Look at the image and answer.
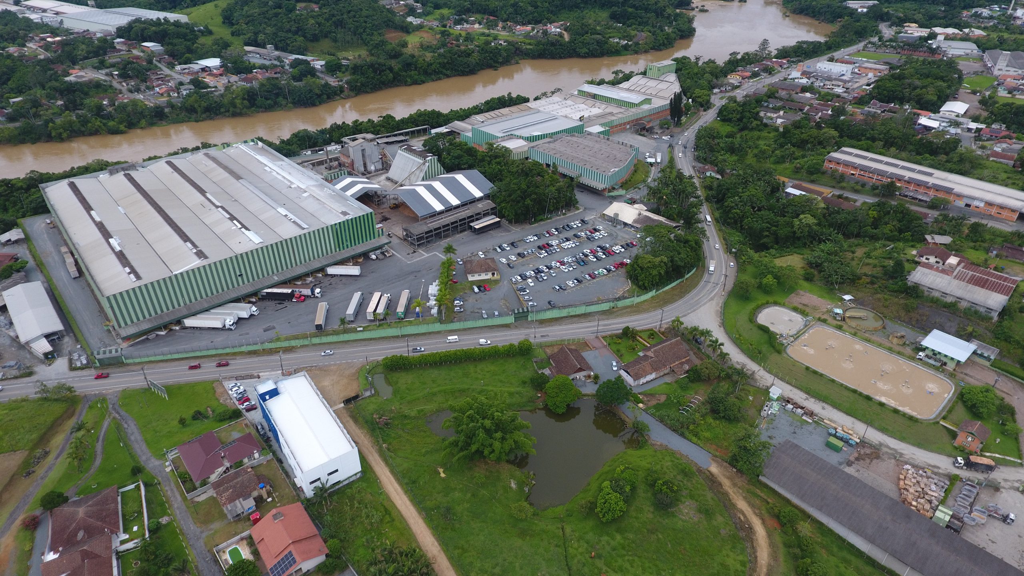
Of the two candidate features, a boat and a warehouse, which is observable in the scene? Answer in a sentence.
Visible in the photo is a warehouse.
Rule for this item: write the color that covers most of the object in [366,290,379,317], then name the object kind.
white vehicle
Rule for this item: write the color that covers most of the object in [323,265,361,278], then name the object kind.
white vehicle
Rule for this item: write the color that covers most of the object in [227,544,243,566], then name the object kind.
green swimming pool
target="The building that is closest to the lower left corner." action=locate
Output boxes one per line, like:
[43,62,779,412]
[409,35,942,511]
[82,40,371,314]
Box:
[42,480,133,576]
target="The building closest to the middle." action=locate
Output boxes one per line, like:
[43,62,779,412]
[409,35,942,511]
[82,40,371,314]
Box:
[460,259,504,284]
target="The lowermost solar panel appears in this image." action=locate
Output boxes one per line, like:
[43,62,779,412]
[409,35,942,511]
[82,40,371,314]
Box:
[267,551,294,576]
